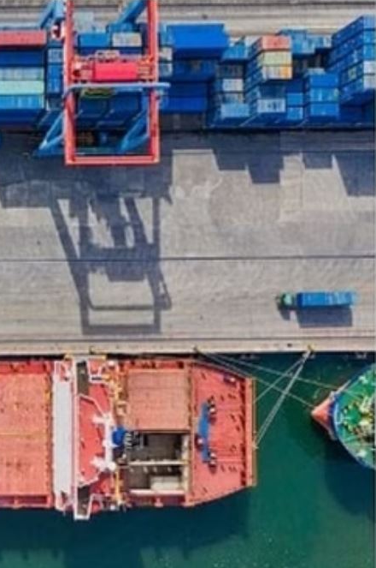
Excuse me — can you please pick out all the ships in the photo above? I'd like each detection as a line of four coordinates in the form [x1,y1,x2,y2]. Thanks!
[0,352,256,520]
[315,362,376,476]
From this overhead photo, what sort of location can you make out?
port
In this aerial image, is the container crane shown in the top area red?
Yes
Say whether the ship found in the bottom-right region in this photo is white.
No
